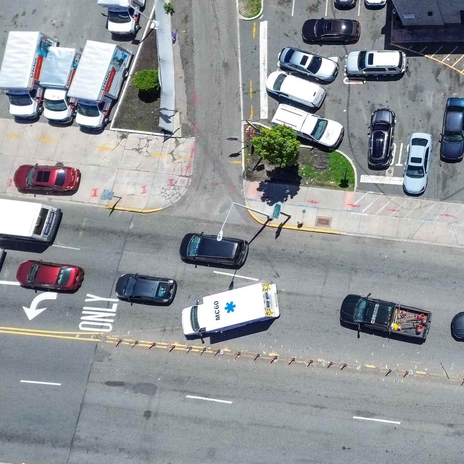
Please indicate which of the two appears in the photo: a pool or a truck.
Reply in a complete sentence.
There is a truck in the scene.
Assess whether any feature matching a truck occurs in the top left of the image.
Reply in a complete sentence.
Yes, a truck can be seen in the top left of the image.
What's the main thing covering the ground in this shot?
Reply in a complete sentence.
The scene is dominated by paved ground.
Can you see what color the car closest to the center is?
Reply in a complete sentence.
In this view, the car closest to the center is black.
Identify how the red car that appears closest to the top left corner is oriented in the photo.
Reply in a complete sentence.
In this picture, the red car that appears closest to the top left corner lies horizontally.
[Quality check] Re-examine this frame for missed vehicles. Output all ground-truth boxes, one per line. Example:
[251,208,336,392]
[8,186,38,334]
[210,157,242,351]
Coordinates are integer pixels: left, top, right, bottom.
[365,109,395,171]
[263,71,329,111]
[301,16,361,45]
[113,273,181,305]
[0,31,61,118]
[337,296,432,339]
[344,49,408,79]
[401,131,434,198]
[177,232,251,269]
[264,98,347,146]
[179,285,283,343]
[274,48,341,85]
[39,49,82,127]
[0,199,67,245]
[98,0,146,35]
[69,41,134,128]
[439,97,464,163]
[450,312,464,339]
[15,259,88,293]
[13,162,83,193]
